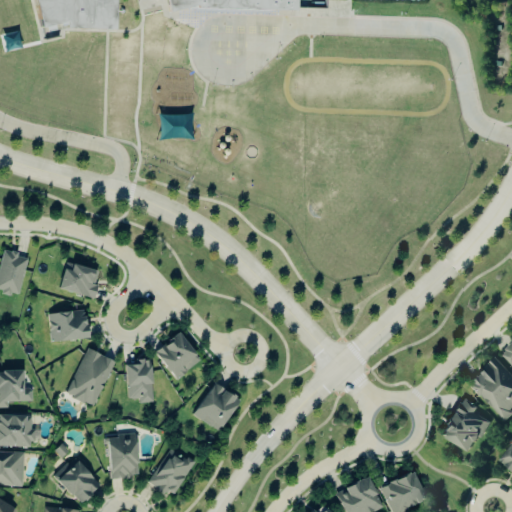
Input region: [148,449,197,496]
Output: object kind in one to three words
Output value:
house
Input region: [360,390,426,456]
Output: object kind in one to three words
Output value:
roundabout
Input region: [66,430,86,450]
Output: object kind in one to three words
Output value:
swimming pool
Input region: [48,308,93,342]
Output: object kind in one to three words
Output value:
house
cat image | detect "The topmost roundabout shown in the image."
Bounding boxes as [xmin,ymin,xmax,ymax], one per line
[230,330,269,379]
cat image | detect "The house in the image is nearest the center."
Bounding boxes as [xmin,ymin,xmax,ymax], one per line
[155,332,202,378]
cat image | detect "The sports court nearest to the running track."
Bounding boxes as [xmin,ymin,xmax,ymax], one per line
[192,14,305,84]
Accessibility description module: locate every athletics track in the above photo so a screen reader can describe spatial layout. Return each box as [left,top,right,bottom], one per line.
[284,57,450,114]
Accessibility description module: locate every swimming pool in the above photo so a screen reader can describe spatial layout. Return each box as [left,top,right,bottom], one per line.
[60,396,78,418]
[26,457,38,477]
[140,434,160,456]
[40,418,54,439]
[66,430,86,450]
